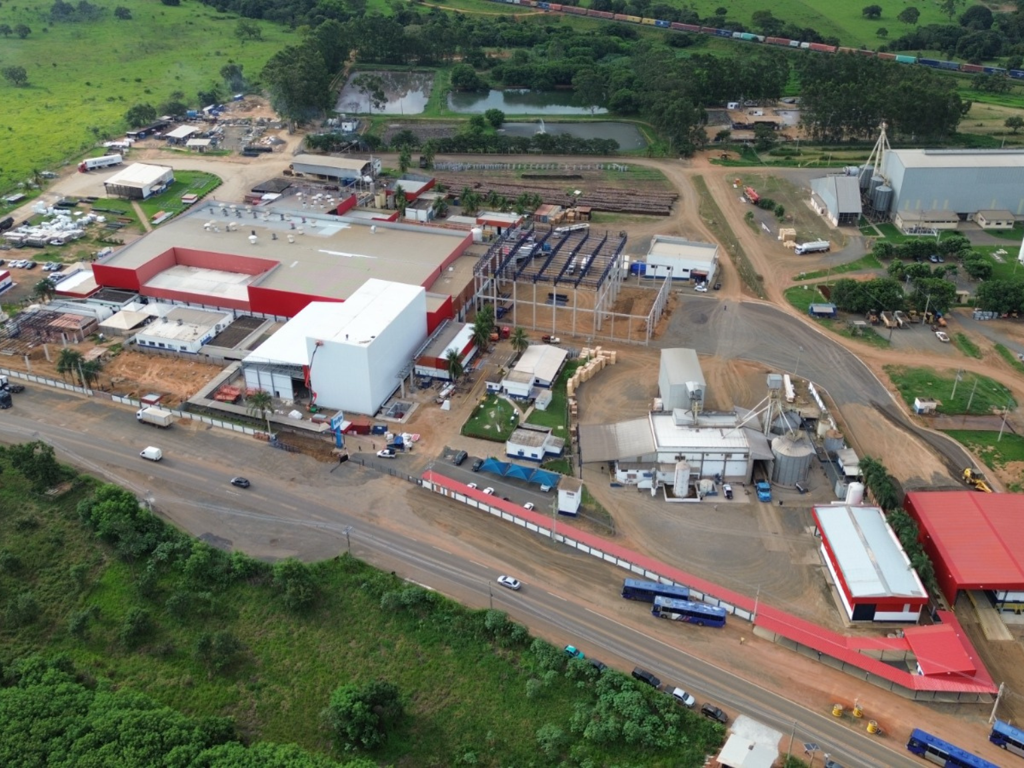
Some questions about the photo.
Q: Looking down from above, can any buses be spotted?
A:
Yes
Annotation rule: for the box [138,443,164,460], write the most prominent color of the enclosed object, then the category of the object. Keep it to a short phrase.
white vehicle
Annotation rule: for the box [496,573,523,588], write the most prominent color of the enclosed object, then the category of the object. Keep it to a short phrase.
white car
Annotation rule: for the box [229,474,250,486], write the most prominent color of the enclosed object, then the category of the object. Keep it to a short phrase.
gray vehicle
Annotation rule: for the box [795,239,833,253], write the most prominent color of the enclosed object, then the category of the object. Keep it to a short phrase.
white vehicle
